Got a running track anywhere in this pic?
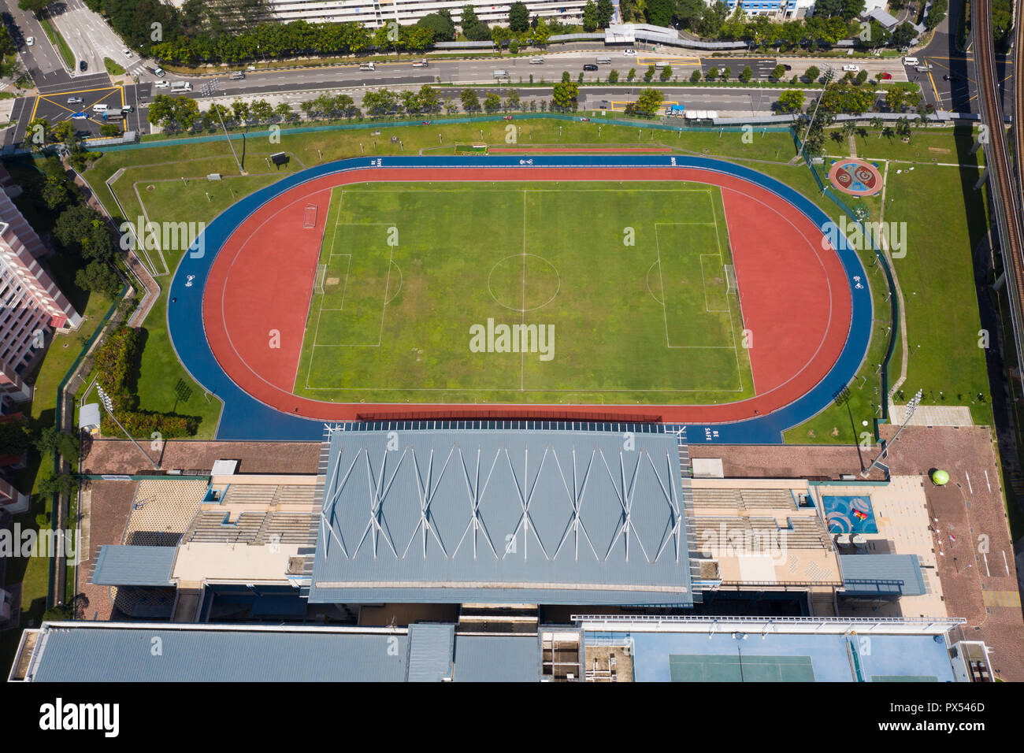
Yes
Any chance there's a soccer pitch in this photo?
Yes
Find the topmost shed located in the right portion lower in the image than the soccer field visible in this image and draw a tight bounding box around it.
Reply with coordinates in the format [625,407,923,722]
[691,458,724,478]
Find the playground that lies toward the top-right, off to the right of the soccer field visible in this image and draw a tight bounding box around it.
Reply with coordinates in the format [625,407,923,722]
[829,159,883,196]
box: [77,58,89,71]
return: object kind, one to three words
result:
vehicle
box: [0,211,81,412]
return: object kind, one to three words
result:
building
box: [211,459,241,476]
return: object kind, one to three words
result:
shed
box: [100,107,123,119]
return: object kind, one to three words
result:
vehicle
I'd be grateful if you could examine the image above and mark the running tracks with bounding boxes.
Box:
[166,154,874,444]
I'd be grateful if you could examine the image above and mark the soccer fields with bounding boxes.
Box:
[292,181,757,406]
